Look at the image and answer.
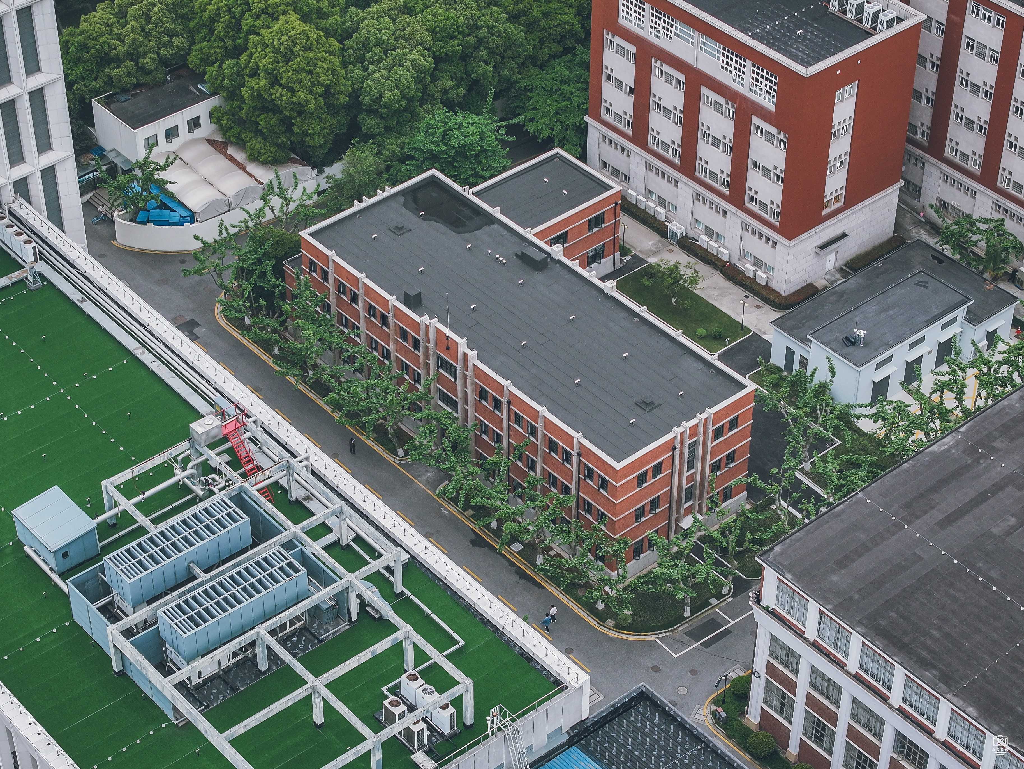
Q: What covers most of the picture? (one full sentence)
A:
Most of the picture is covered by buildings.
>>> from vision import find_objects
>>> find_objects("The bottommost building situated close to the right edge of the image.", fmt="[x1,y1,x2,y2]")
[737,383,1024,769]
